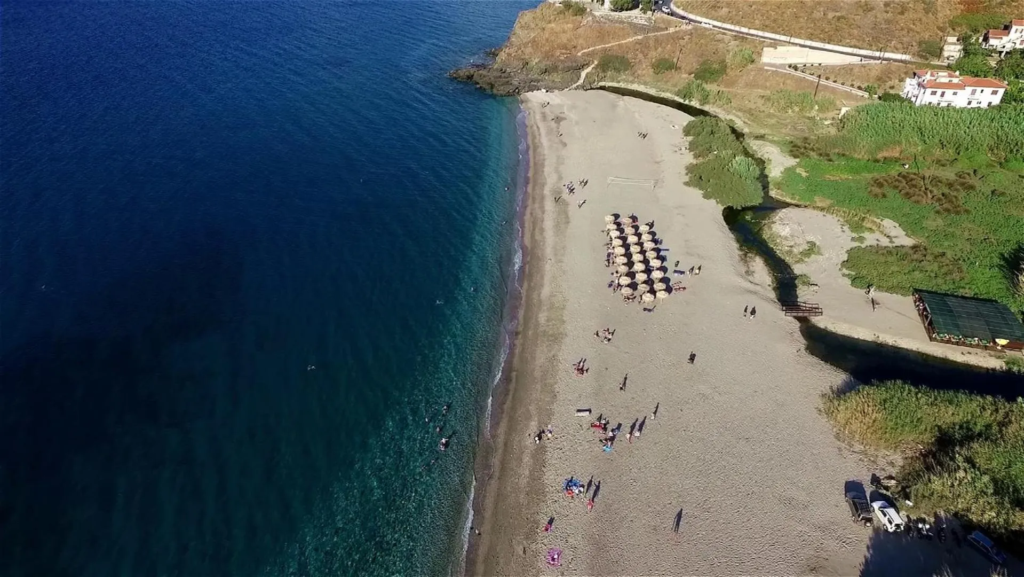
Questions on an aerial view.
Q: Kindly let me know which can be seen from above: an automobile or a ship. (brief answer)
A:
automobile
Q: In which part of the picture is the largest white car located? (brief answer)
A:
bottom right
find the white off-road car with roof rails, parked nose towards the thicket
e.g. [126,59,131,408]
[868,497,908,534]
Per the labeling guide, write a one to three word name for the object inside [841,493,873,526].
car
